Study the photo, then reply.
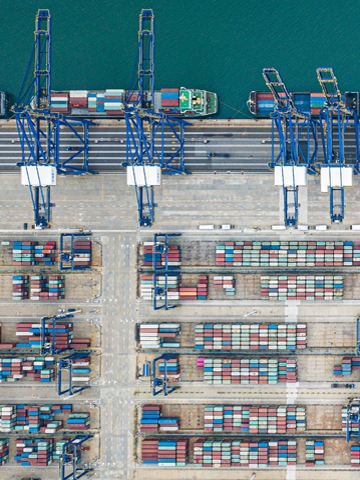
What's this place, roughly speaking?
port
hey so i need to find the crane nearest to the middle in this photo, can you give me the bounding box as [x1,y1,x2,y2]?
[153,235,182,270]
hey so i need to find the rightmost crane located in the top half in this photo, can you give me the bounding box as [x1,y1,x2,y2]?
[314,62,360,229]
